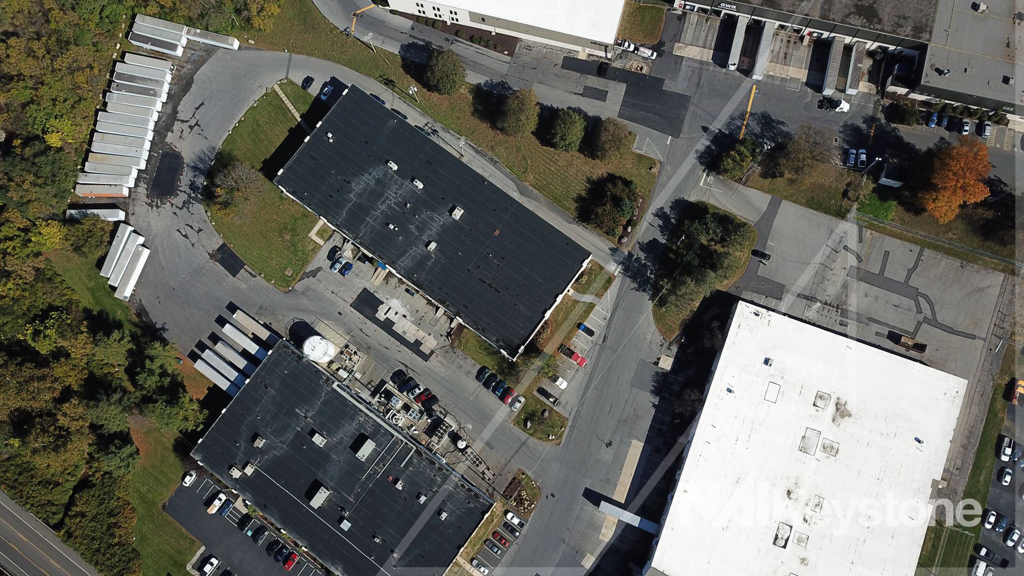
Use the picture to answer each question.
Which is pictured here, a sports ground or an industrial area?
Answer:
industrial area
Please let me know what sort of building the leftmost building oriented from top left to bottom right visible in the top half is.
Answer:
warehouse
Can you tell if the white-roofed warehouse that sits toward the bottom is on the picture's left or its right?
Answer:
right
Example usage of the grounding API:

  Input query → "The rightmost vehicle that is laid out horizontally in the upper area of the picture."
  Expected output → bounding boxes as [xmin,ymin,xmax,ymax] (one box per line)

[817,99,850,114]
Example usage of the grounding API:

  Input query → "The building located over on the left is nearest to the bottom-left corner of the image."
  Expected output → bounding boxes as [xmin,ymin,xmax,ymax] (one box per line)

[191,340,498,576]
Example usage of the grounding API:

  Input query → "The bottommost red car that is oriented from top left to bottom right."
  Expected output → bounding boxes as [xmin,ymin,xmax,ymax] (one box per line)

[492,531,511,548]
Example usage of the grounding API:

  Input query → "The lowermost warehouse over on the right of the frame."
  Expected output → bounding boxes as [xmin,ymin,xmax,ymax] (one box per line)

[644,301,968,576]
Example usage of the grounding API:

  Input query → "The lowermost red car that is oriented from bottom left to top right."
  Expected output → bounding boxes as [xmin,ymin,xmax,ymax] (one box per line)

[282,552,300,571]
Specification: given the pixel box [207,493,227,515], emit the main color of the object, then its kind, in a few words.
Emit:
white vehicle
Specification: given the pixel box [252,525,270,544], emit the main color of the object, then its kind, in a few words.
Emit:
black car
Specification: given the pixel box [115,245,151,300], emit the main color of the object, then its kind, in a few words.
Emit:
white trailer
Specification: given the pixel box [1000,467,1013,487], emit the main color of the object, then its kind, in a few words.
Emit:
white vehicle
